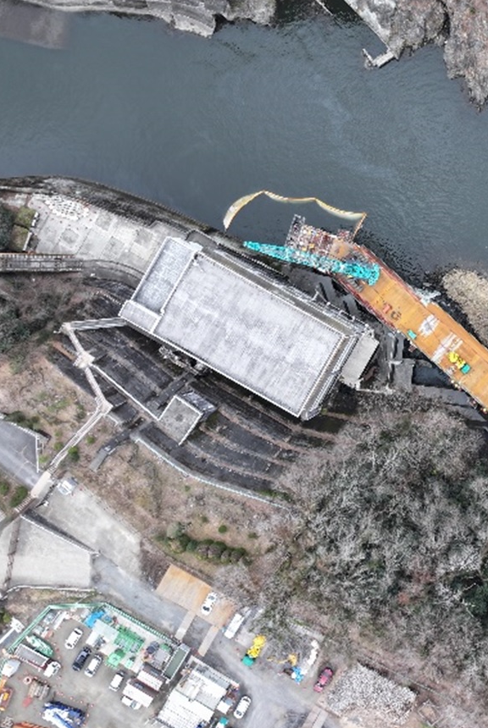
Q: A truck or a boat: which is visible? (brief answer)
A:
truck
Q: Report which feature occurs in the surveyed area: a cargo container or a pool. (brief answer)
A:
cargo container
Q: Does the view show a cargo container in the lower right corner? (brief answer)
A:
No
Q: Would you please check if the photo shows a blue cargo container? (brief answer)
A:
No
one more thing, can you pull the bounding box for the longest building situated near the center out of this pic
[118,230,400,423]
